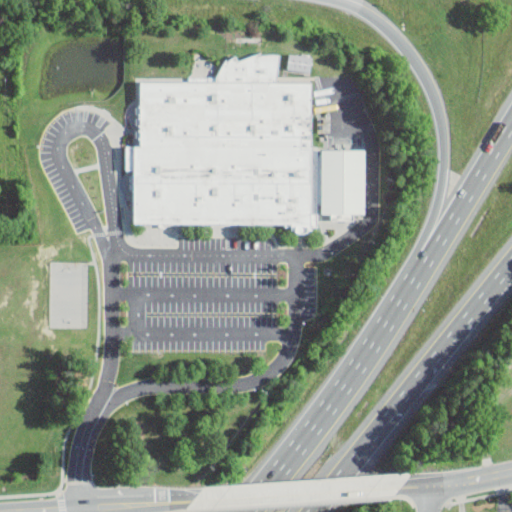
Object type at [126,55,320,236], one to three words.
building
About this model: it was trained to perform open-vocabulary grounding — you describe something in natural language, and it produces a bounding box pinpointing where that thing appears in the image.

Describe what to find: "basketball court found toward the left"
[50,262,88,329]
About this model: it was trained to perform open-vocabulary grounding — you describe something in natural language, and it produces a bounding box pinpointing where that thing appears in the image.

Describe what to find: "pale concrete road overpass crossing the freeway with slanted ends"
[188,472,410,512]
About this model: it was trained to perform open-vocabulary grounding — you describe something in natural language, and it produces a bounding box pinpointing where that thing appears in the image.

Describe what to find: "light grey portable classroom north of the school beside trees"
[288,54,312,76]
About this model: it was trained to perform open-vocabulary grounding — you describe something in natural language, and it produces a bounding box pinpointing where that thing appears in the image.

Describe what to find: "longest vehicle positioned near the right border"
[486,124,504,154]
